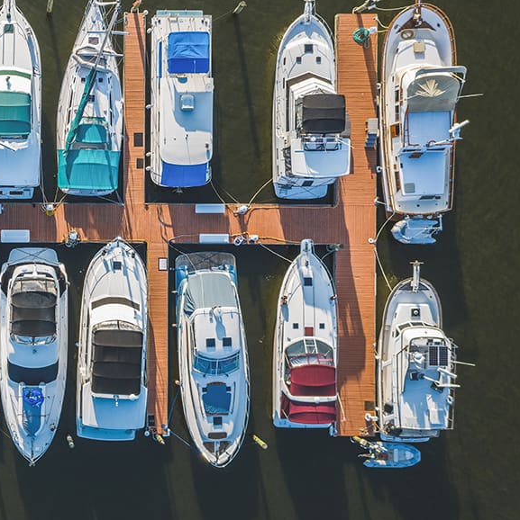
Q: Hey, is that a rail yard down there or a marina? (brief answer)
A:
marina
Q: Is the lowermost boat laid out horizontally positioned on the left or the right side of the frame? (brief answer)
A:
right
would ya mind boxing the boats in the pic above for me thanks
[270,0,352,198]
[271,238,345,429]
[0,248,69,469]
[0,0,43,198]
[77,235,149,441]
[175,252,251,471]
[391,216,443,246]
[378,0,483,215]
[358,441,422,470]
[56,0,138,197]
[372,261,475,443]
[150,10,214,195]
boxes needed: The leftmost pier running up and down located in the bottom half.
[146,243,169,435]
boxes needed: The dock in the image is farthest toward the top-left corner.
[122,11,146,203]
